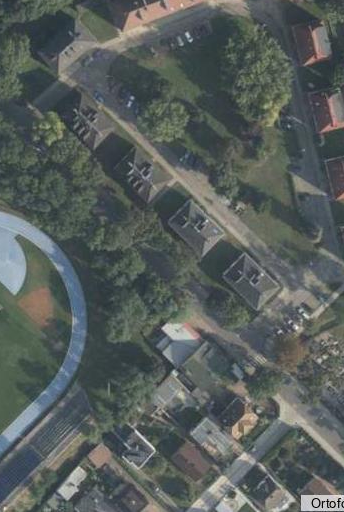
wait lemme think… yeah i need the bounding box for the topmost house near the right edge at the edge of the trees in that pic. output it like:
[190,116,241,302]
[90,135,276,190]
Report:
[291,20,331,67]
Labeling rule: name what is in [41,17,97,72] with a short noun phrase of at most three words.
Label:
house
